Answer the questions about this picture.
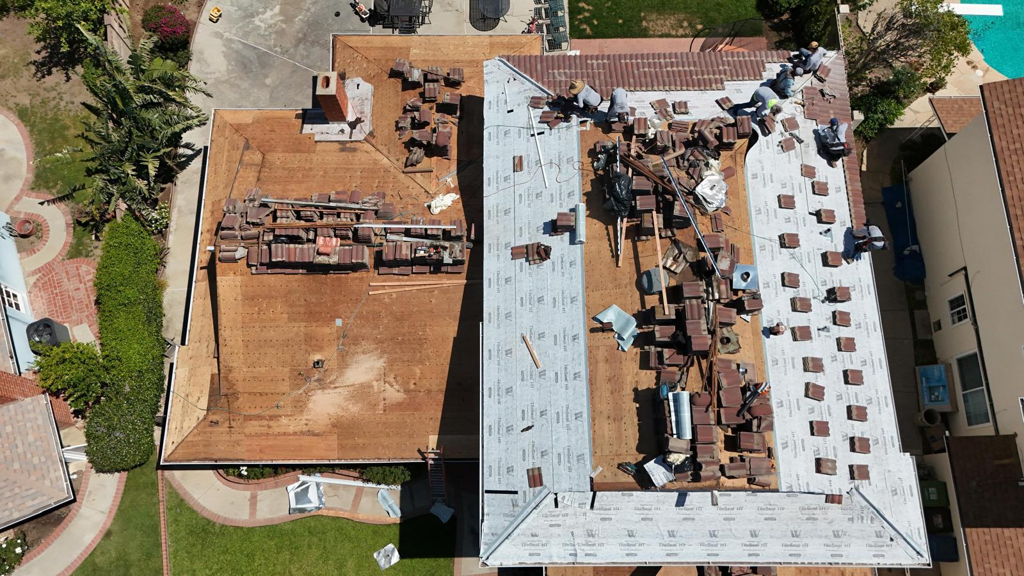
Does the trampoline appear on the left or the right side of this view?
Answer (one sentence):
The trampoline is on the right side of the image.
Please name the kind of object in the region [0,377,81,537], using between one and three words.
house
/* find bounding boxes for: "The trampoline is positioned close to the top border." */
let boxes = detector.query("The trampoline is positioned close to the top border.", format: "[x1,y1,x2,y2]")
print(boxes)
[701,0,787,52]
